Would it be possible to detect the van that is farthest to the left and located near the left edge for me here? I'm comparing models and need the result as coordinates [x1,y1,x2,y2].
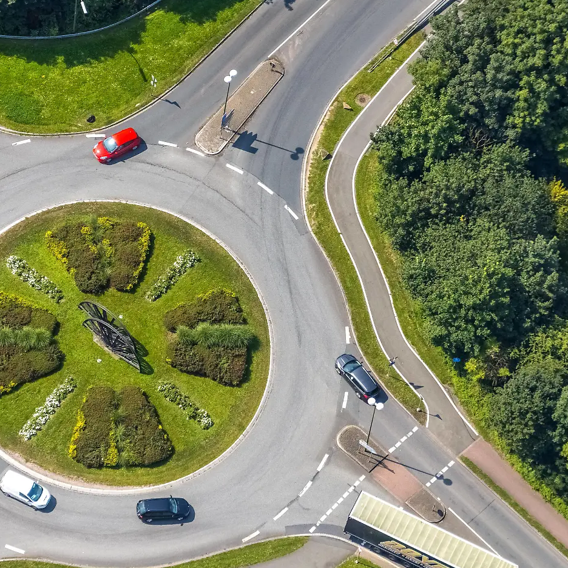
[0,467,53,512]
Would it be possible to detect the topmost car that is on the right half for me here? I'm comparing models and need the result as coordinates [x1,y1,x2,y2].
[334,352,384,403]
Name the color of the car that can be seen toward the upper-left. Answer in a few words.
red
